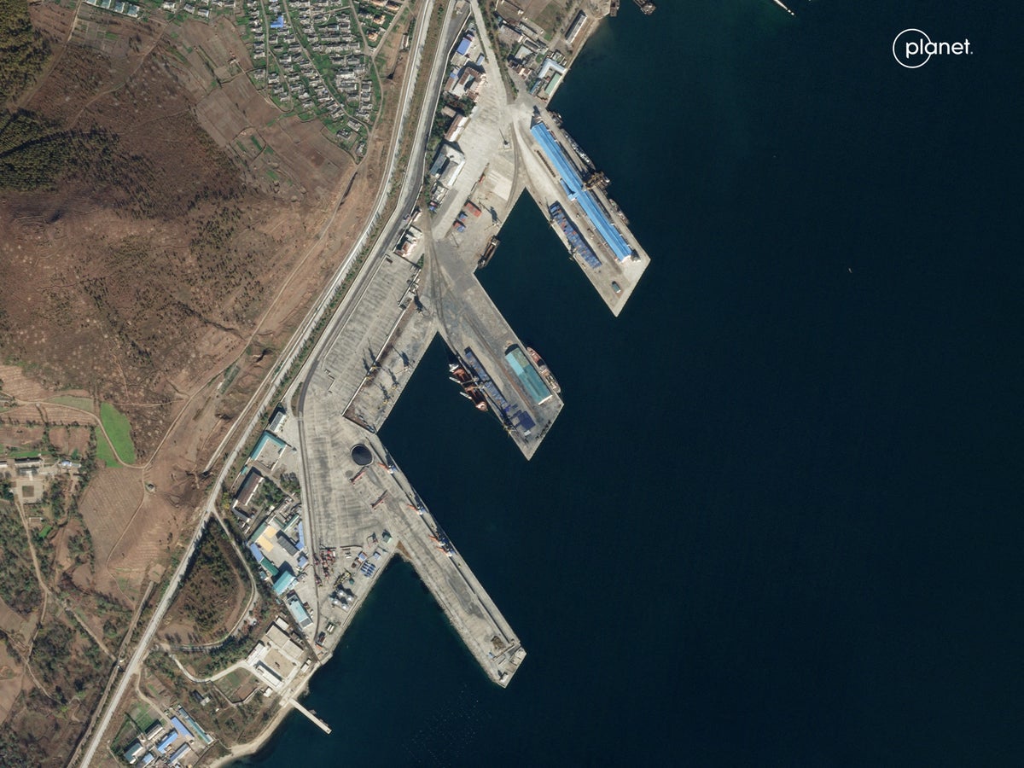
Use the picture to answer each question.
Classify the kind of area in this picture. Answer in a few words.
port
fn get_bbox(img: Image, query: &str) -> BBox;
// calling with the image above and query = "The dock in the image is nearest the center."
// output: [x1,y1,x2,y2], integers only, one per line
[437,273,564,461]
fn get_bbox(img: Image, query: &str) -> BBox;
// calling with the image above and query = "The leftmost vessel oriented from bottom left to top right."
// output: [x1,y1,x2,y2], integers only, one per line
[479,239,498,268]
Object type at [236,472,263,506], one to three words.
building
